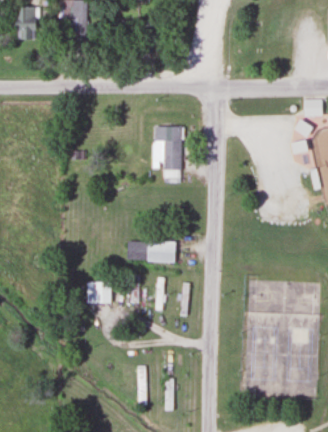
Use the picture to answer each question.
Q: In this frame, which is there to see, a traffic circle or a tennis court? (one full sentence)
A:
Of the two, only a tennis court appears.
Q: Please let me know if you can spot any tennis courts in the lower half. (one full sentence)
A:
Yes, a tennis court can be seen in the lower half.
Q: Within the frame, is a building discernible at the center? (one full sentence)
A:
Yes, a building shows up at the center.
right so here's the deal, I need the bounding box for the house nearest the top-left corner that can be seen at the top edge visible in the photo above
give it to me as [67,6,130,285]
[16,7,36,40]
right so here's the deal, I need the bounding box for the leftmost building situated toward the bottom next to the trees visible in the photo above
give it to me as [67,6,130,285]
[88,282,112,306]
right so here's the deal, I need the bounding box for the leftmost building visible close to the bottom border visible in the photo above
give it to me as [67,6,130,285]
[137,365,150,410]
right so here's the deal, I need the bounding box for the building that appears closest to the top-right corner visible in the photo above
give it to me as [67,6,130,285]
[304,99,323,117]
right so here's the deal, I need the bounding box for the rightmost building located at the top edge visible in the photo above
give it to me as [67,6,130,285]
[64,0,88,36]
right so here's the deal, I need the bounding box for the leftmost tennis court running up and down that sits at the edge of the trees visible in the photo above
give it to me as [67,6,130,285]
[244,314,284,397]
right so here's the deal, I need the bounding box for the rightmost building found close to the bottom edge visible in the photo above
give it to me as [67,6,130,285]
[165,378,178,412]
